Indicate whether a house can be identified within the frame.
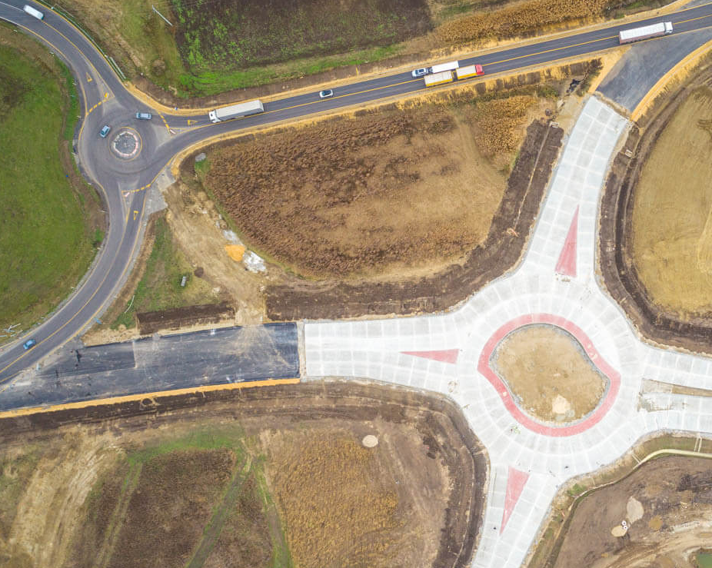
No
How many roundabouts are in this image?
2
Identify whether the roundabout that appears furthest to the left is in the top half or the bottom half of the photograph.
top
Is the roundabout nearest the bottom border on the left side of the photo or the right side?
right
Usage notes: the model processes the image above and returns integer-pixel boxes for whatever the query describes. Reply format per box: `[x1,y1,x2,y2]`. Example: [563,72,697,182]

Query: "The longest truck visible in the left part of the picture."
[212,98,268,123]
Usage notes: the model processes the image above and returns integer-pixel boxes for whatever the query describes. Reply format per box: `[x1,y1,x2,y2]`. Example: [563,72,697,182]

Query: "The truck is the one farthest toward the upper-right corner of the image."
[618,25,673,46]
